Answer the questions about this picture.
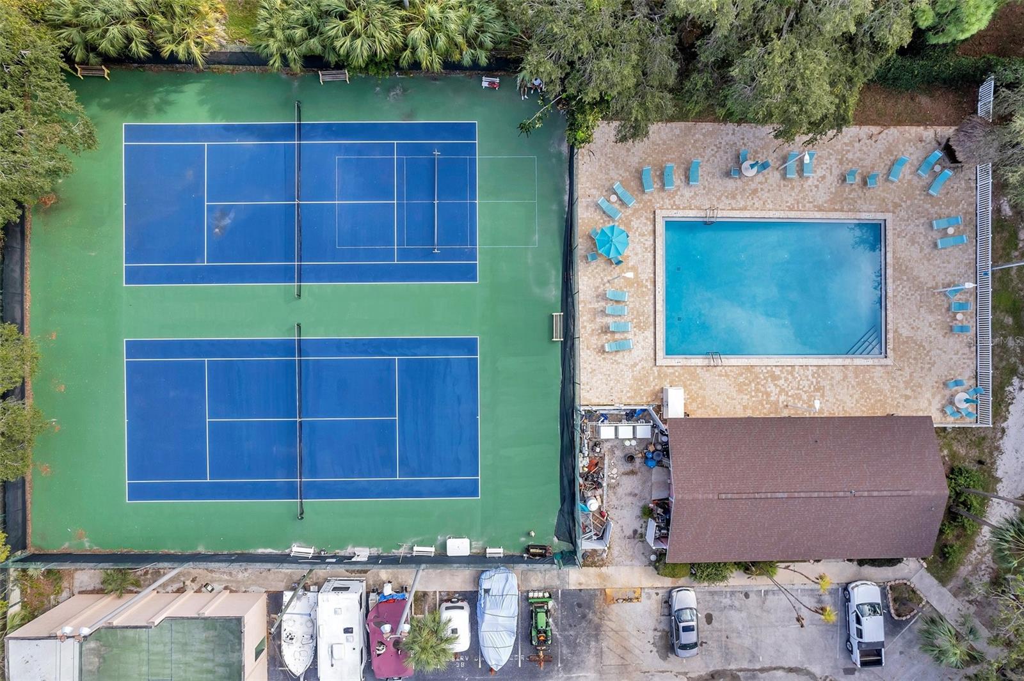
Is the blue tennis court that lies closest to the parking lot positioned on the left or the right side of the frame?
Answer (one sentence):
You can find the blue tennis court that lies closest to the parking lot on the left side of the picture.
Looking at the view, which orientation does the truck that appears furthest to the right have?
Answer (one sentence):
I'd say the truck that appears furthest to the right is aligned vertically in the picture.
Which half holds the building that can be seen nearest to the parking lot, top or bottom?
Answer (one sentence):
Seen from above, the building that can be seen nearest to the parking lot lies in the bottom half of the view.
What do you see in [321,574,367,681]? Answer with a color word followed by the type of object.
white camper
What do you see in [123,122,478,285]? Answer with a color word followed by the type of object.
blue tennis court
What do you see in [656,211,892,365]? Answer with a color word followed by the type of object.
blue swimming pool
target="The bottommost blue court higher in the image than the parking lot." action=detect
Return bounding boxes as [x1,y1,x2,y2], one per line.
[125,337,480,502]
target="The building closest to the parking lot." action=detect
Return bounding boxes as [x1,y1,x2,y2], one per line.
[663,418,948,562]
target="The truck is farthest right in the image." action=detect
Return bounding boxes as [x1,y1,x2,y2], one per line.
[842,580,883,668]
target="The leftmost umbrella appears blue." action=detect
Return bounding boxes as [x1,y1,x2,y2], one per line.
[596,226,628,258]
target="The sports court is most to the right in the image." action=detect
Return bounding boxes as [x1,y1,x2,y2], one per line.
[336,156,537,248]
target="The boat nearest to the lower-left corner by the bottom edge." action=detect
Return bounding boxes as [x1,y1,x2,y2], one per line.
[279,579,319,681]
